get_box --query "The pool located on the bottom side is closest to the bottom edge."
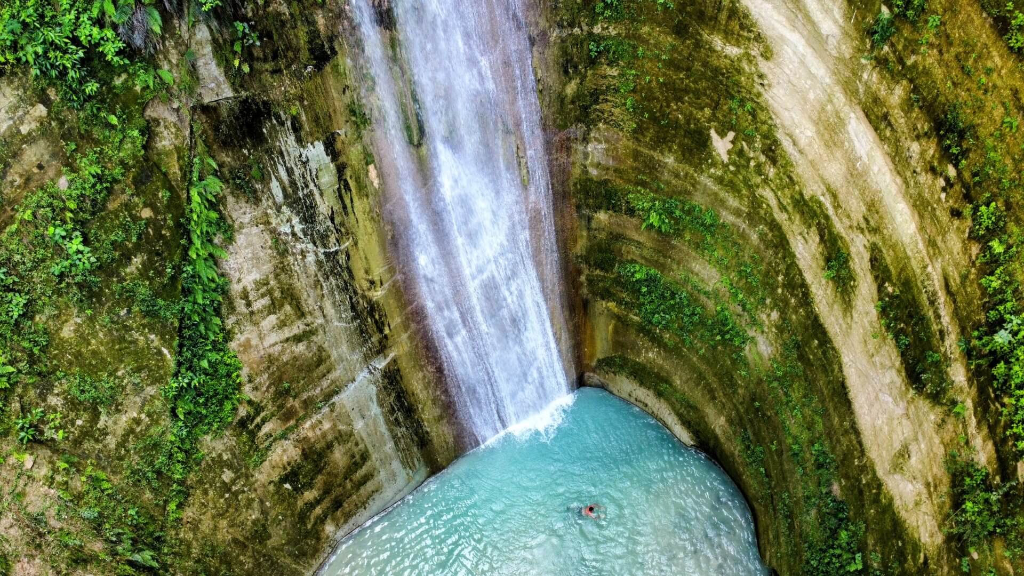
[316,387,774,576]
